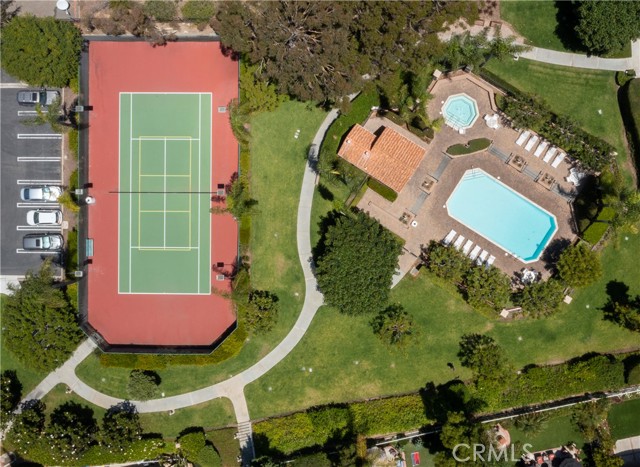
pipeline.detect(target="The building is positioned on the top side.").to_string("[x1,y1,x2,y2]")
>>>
[338,123,426,193]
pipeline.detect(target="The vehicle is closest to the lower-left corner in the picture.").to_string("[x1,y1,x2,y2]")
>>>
[22,232,66,252]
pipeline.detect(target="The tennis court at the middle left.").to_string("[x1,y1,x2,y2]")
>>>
[88,43,239,349]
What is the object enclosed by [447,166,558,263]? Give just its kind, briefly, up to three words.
swimming pool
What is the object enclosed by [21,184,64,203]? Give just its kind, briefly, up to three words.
car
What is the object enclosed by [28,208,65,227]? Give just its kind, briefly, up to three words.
car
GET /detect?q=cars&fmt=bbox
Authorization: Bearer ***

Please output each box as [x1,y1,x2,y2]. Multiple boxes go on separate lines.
[22,232,66,252]
[21,184,64,203]
[28,208,65,227]
[16,87,62,108]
